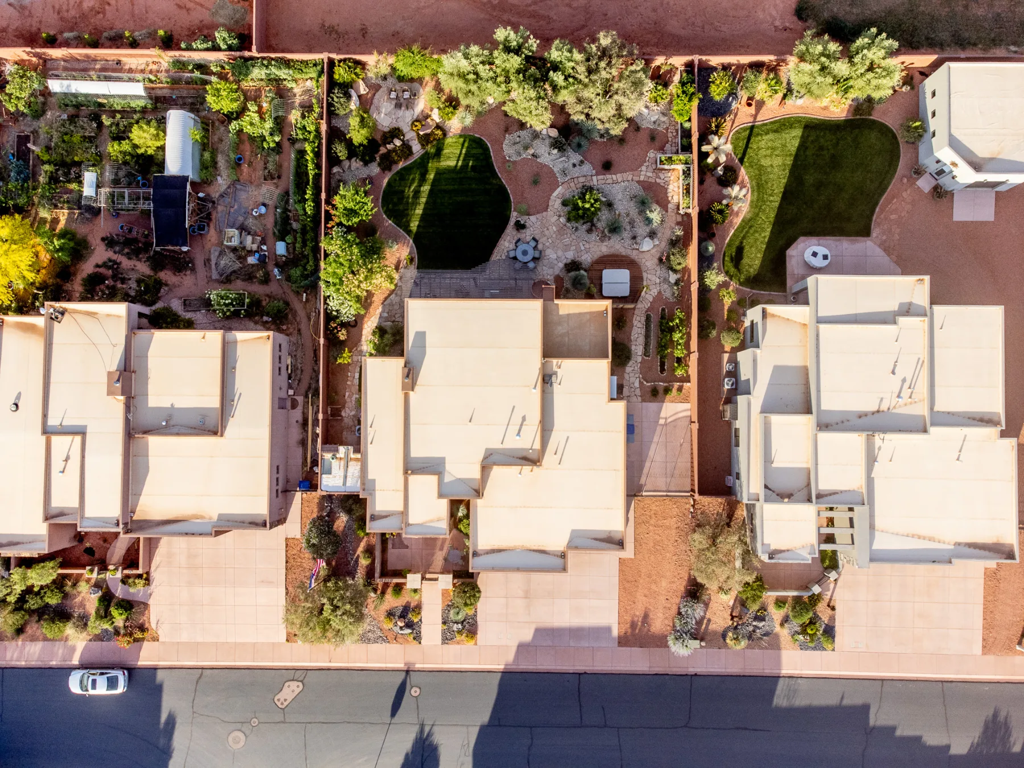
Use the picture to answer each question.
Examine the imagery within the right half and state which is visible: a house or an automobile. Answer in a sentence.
There is a house within the right half.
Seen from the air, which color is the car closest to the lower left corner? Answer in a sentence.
In this view, the car closest to the lower left corner is white.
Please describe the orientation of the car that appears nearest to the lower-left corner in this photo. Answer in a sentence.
The car that appears nearest to the lower-left corner is oriented from side to side.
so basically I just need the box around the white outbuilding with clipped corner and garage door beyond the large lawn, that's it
[923,63,1024,186]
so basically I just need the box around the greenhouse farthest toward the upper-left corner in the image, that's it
[172,111,208,187]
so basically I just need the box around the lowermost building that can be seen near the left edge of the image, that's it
[0,302,290,557]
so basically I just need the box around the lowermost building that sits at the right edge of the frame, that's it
[733,276,1017,568]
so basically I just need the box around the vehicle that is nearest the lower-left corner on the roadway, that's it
[68,669,129,699]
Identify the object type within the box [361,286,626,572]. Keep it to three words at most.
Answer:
house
